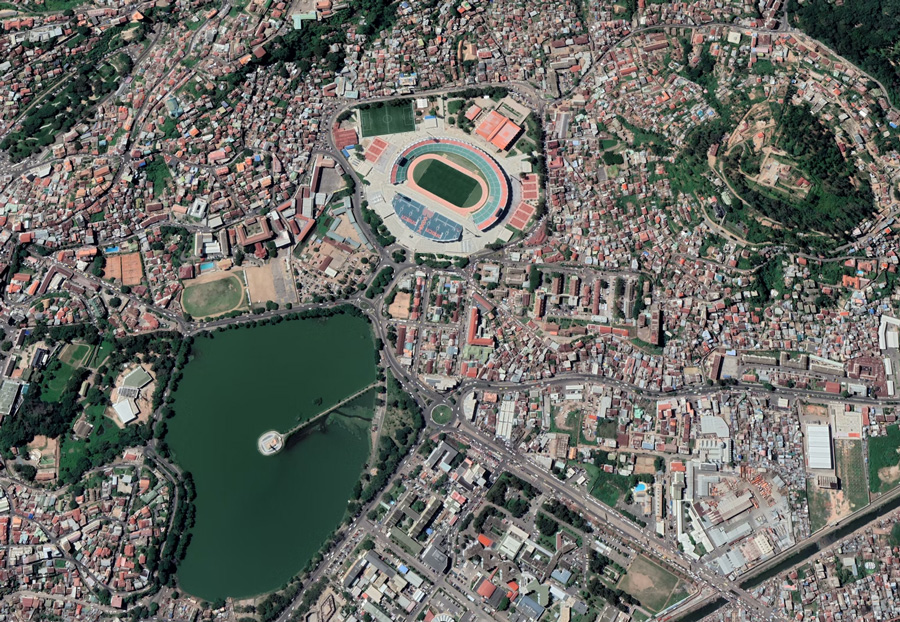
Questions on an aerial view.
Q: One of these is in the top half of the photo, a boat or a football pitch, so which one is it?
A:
football pitch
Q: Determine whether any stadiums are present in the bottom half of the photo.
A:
No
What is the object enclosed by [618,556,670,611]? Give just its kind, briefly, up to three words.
sports field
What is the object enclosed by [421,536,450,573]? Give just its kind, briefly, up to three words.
building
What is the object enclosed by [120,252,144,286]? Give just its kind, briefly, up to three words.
tennis court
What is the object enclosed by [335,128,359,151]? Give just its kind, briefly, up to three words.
building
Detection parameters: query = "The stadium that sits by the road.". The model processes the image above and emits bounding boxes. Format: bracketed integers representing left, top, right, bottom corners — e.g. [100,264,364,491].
[388,137,508,243]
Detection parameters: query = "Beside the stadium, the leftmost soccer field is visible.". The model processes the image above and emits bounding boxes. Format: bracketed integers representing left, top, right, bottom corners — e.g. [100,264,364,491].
[359,103,417,139]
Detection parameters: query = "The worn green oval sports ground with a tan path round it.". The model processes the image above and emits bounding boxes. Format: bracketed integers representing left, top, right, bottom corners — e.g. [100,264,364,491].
[180,276,244,319]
